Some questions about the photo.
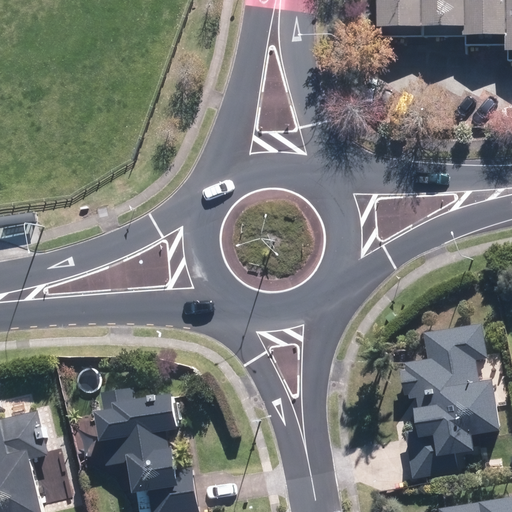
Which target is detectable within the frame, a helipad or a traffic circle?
traffic circle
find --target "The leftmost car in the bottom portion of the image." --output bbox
[183,301,215,317]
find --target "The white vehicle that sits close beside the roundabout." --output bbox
[201,179,237,200]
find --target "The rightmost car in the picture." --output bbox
[474,92,502,125]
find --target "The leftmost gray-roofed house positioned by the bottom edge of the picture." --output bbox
[0,410,49,512]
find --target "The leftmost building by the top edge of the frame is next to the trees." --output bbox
[376,0,422,38]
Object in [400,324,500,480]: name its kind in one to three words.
house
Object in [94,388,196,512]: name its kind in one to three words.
house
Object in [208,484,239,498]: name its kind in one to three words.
car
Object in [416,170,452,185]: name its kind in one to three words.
vehicle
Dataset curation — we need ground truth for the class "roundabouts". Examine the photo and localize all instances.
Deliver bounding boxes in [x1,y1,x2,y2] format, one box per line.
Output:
[220,188,325,292]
